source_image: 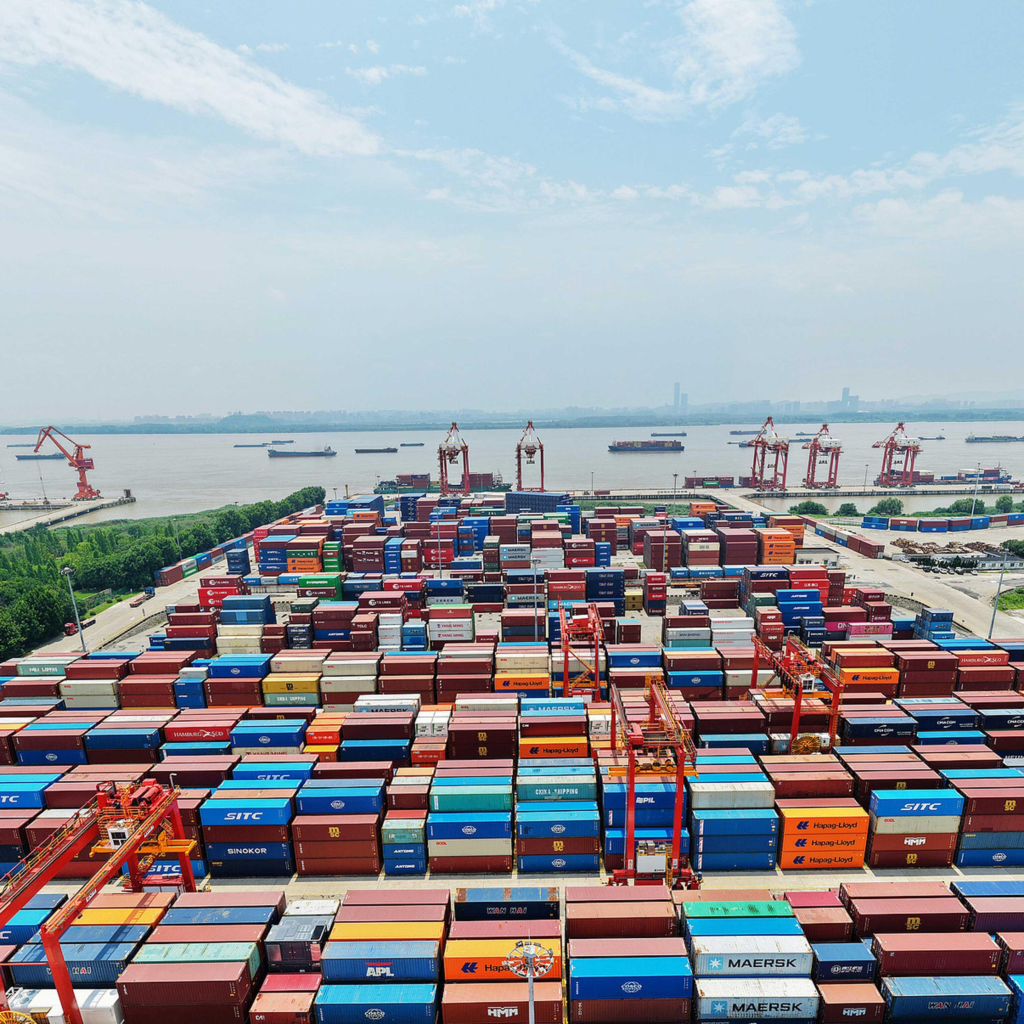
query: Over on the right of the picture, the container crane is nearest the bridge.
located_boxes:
[751,418,790,490]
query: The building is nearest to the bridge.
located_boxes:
[788,552,841,568]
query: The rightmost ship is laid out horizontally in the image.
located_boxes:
[963,429,1023,442]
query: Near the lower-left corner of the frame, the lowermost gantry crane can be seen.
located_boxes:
[0,768,209,1024]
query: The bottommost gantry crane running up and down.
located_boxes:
[597,672,704,887]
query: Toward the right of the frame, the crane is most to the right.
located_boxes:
[874,423,926,488]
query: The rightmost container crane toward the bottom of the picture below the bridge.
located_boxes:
[750,633,848,755]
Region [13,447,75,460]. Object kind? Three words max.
ship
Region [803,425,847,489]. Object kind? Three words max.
container crane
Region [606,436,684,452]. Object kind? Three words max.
ship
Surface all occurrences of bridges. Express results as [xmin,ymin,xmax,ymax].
[710,496,780,514]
